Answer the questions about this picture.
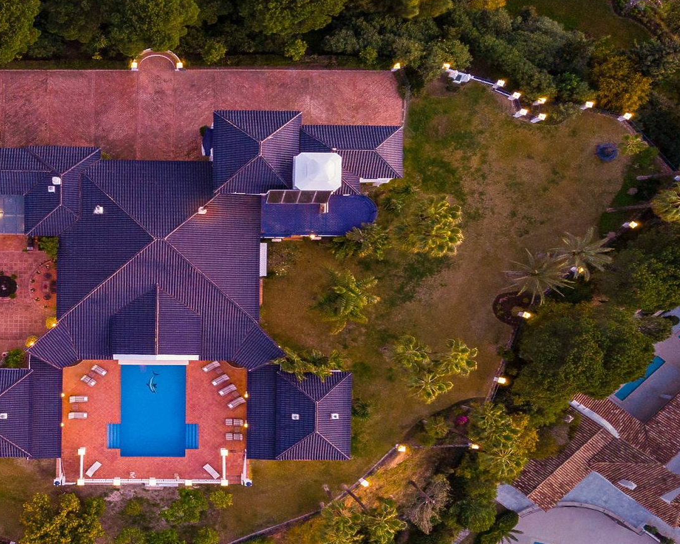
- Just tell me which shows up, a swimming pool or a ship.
swimming pool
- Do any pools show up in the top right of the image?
No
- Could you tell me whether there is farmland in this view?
No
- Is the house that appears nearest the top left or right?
left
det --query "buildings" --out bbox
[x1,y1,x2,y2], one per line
[507,392,680,529]
[0,109,404,460]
